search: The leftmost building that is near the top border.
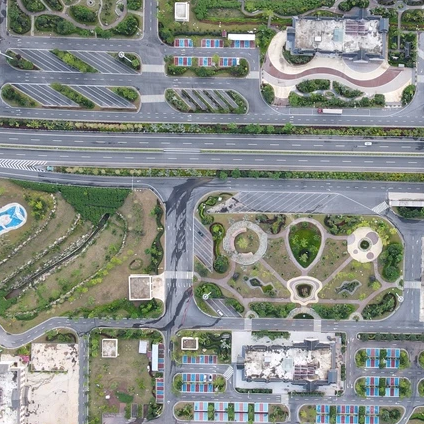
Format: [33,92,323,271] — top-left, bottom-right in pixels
[175,2,190,22]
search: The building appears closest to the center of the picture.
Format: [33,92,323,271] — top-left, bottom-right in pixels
[129,274,153,300]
